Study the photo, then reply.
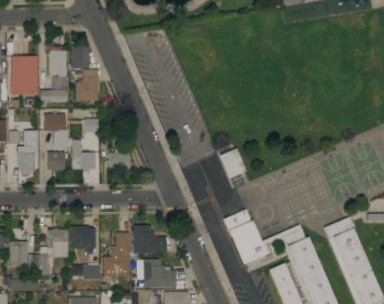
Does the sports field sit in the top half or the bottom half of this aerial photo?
top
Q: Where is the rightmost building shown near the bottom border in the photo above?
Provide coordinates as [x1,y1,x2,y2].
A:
[326,217,384,304]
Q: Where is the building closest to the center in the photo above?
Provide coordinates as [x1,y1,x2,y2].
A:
[220,148,246,178]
